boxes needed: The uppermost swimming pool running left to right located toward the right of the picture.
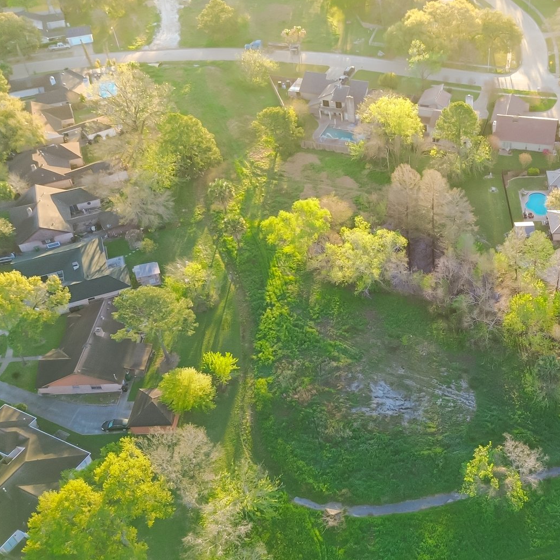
[318,122,355,141]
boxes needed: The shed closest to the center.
[135,261,160,283]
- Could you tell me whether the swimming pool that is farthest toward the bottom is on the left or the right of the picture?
right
